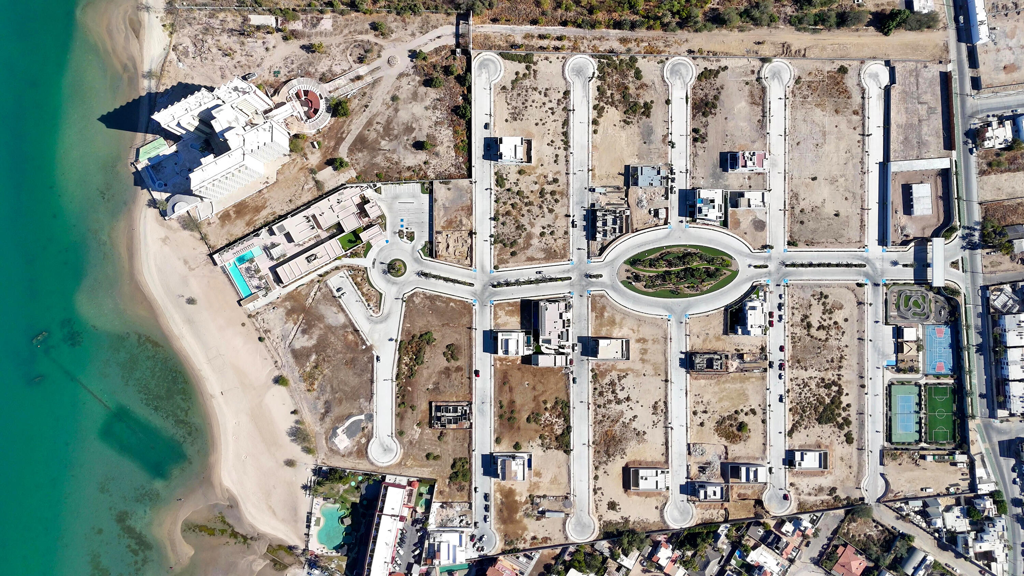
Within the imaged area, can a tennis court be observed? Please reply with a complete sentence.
Yes, I can see a tennis court in this picture.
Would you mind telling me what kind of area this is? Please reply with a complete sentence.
This looks like a residential area.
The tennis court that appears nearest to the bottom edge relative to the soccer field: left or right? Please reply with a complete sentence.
The tennis court that appears nearest to the bottom edge is to the left of the soccer field.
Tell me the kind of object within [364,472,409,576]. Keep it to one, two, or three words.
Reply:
building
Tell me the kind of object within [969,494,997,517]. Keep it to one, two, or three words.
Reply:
house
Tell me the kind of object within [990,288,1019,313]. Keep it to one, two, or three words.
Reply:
shed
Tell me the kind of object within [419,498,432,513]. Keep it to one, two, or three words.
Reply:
swimming pool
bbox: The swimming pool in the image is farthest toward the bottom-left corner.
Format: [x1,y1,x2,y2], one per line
[316,502,347,552]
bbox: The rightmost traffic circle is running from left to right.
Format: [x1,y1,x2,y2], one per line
[619,245,739,298]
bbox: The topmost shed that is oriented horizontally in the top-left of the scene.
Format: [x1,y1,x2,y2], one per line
[248,15,280,28]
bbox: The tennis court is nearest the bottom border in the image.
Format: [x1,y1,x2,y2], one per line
[892,385,919,442]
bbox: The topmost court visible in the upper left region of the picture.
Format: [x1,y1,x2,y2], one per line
[135,136,170,162]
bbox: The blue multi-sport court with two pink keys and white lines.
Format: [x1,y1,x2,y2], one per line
[926,325,952,374]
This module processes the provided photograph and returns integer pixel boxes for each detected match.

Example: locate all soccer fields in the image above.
[928,385,954,444]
